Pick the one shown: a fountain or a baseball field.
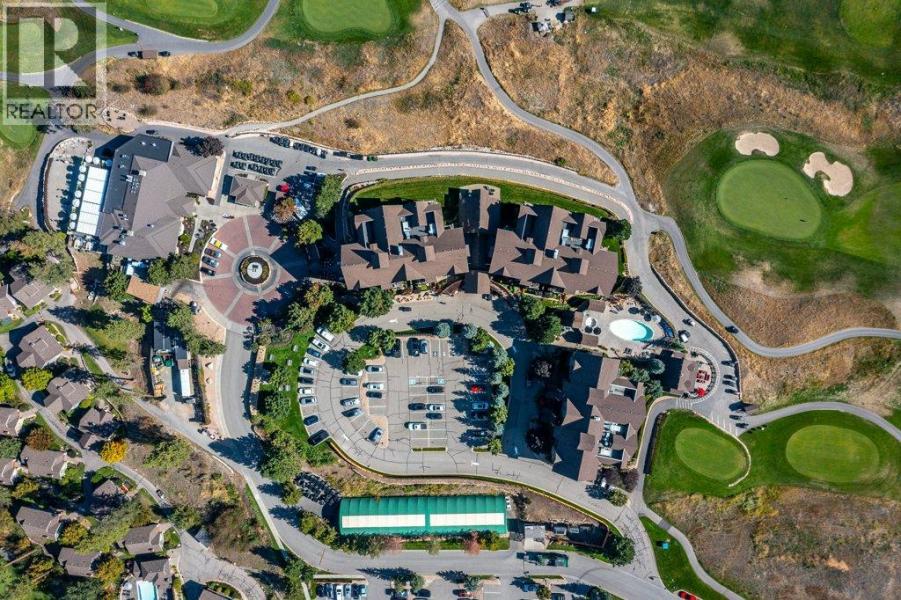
fountain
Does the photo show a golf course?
Yes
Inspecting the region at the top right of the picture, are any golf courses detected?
Yes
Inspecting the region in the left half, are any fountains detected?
Yes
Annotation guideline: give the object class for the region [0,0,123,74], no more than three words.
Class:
golf course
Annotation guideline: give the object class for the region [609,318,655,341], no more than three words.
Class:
swimming pool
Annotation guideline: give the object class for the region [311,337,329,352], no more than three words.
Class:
car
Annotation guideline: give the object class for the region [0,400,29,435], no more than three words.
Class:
house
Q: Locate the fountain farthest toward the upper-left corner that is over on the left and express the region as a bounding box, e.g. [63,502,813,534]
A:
[238,255,269,285]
